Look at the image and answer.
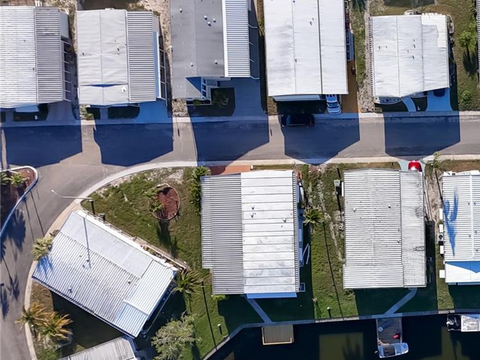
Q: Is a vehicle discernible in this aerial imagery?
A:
Yes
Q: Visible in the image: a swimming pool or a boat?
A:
boat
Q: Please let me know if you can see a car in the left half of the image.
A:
No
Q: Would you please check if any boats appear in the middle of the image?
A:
No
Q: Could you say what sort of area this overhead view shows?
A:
residential area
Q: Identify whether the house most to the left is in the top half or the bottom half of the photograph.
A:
top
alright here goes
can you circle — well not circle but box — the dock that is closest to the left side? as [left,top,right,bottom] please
[261,323,298,346]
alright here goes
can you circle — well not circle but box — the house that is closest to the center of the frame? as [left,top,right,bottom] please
[200,170,309,298]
